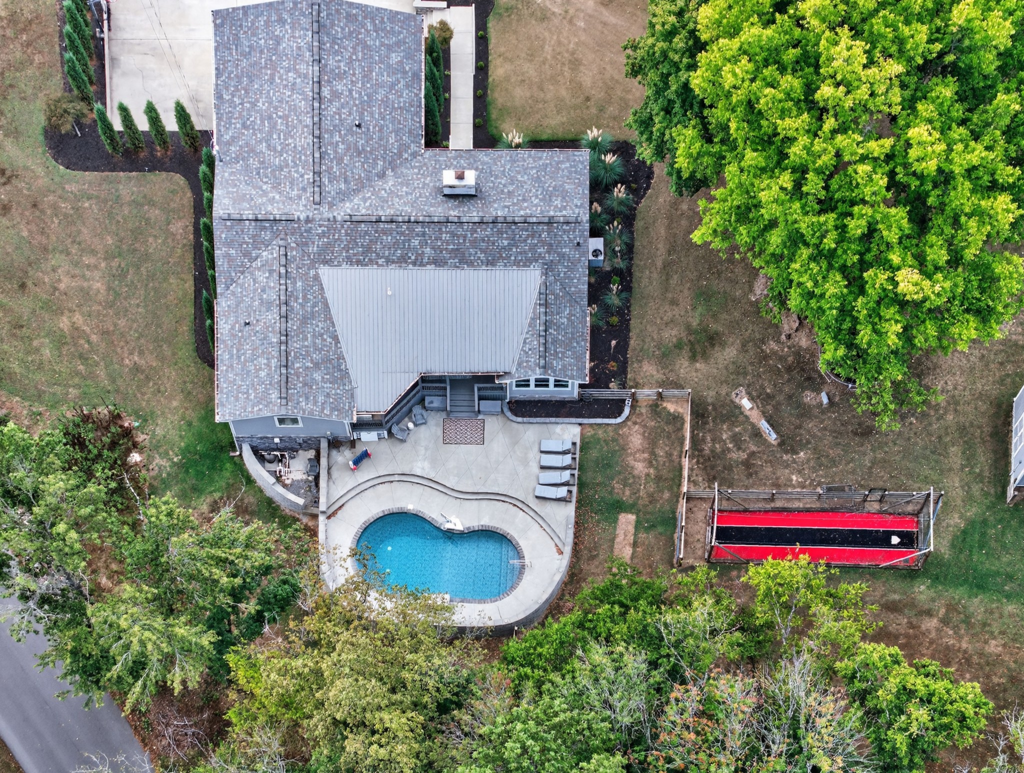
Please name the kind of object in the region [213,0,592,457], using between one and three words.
house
